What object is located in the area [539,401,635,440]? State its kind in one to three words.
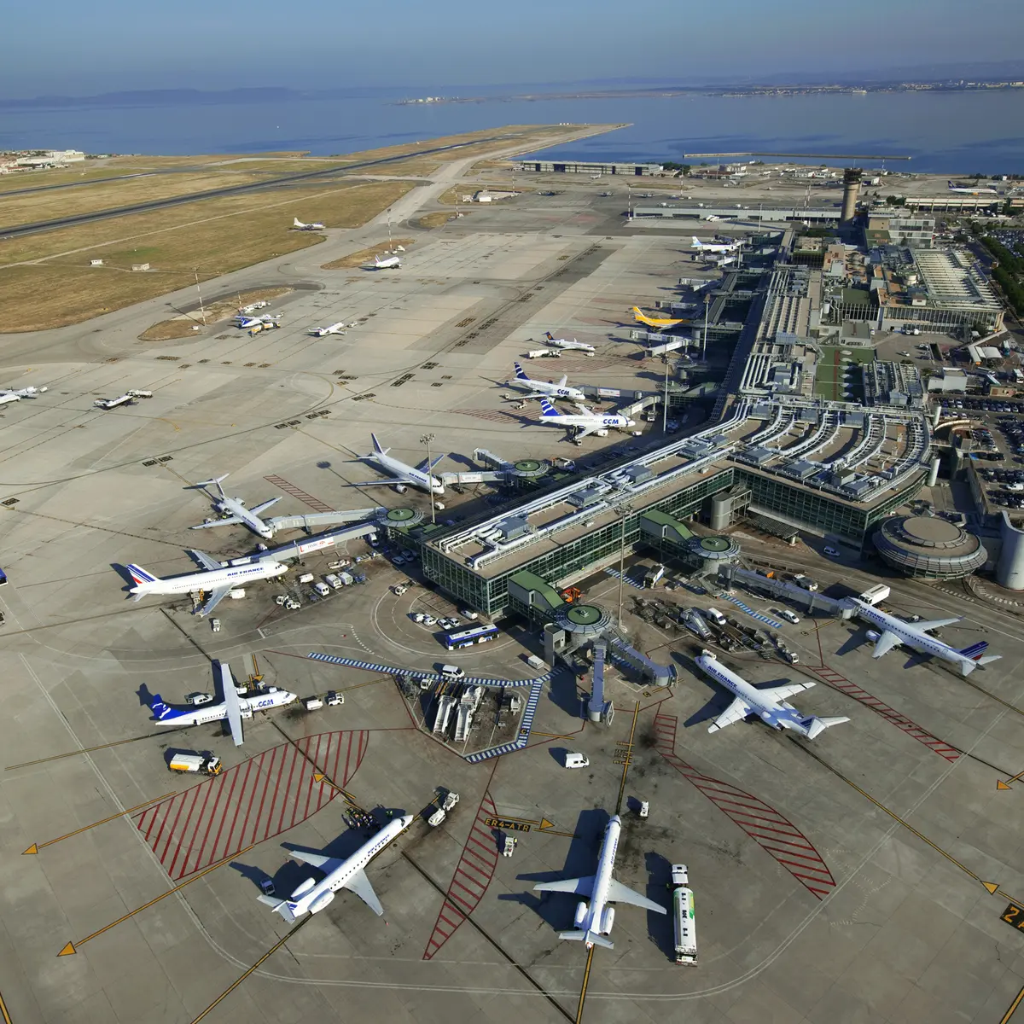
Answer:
airplane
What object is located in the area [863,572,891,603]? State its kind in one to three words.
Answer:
truck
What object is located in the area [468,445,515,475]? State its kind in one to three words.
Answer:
jet bridge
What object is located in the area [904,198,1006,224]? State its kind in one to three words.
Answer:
building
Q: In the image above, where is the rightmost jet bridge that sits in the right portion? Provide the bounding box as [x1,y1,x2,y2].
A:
[724,557,868,624]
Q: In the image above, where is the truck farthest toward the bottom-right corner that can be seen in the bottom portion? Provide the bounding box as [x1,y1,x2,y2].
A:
[671,859,694,963]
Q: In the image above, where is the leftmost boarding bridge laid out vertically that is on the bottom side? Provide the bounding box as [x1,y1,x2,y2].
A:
[577,635,621,728]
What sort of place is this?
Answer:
airport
